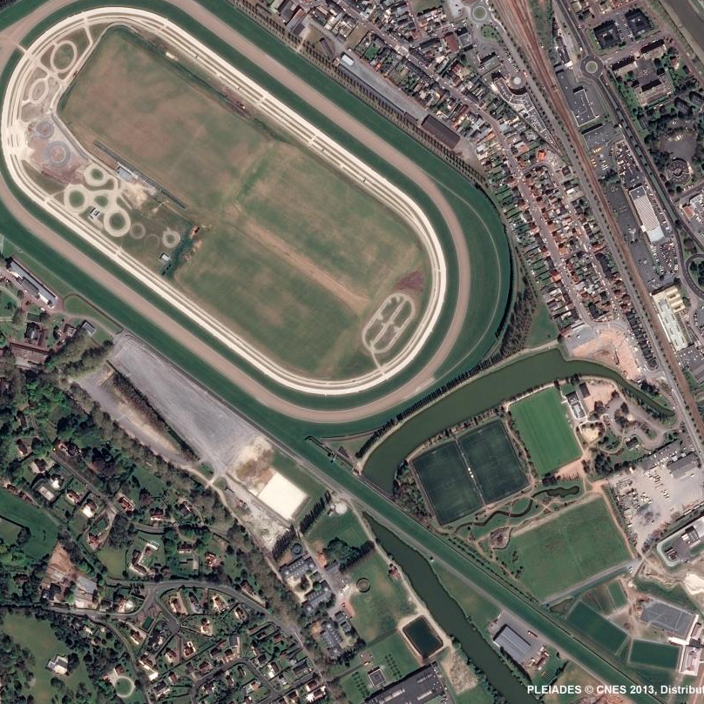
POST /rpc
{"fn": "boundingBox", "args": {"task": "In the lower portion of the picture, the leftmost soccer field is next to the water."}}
[412,442,484,524]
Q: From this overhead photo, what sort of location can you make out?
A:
sports ground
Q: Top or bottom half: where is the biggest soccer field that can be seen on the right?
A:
bottom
